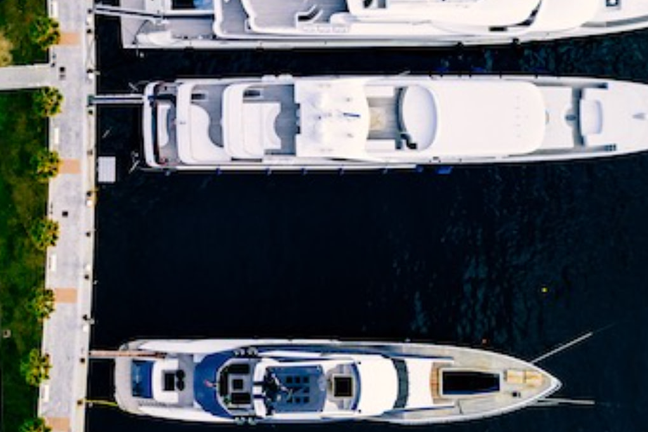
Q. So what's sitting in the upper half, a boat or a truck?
boat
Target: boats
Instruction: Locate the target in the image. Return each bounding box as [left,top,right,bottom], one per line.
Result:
[117,336,560,425]
[120,0,648,52]
[144,67,648,174]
